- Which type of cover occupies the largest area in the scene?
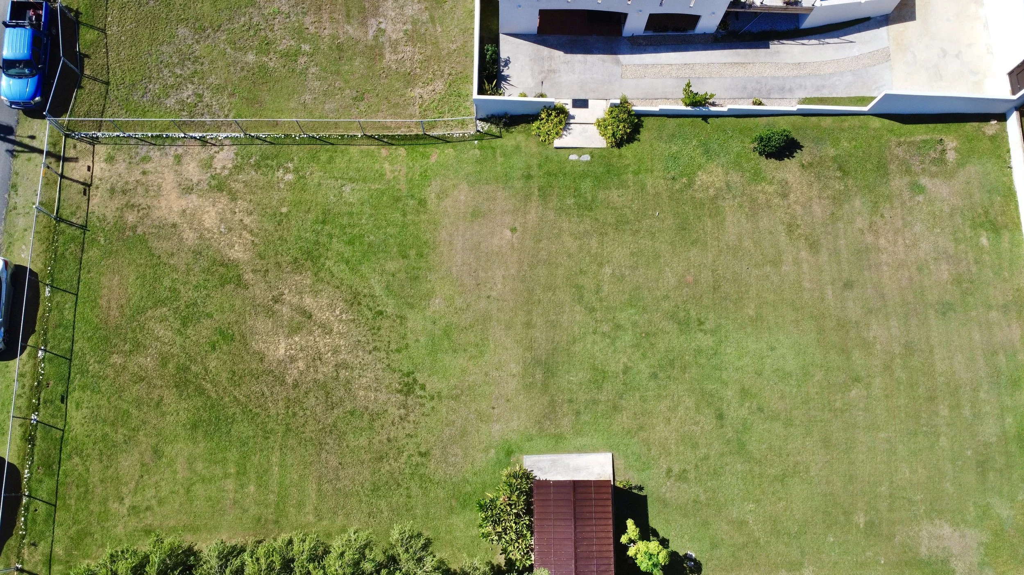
grass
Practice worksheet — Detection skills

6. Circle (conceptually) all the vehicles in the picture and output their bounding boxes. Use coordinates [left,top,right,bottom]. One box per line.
[0,0,62,111]
[0,258,20,351]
